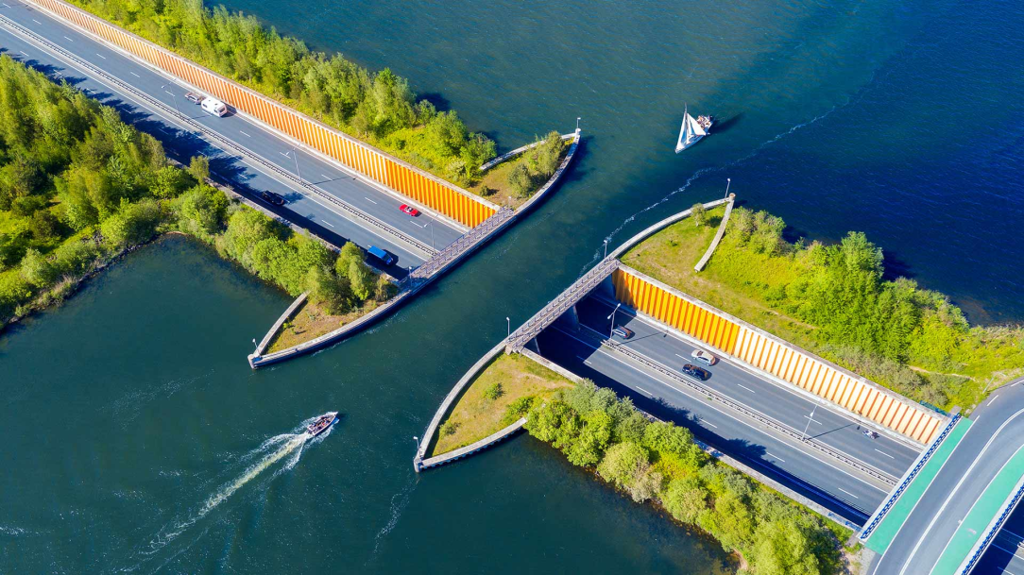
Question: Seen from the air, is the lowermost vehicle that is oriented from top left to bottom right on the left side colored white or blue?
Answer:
blue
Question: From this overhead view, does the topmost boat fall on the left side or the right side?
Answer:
right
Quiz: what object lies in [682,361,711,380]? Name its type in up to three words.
car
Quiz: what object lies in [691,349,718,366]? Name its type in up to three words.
car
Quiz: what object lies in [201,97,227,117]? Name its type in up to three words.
camper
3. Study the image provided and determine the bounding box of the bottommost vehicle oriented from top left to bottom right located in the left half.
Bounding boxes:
[365,240,396,266]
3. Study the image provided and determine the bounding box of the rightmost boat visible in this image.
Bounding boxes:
[671,102,715,152]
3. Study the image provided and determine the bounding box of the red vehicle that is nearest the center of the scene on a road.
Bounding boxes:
[399,204,419,217]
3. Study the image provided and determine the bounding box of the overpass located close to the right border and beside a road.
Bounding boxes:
[849,378,1024,575]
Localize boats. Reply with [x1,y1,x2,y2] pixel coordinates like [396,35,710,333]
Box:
[305,411,339,439]
[671,102,715,152]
